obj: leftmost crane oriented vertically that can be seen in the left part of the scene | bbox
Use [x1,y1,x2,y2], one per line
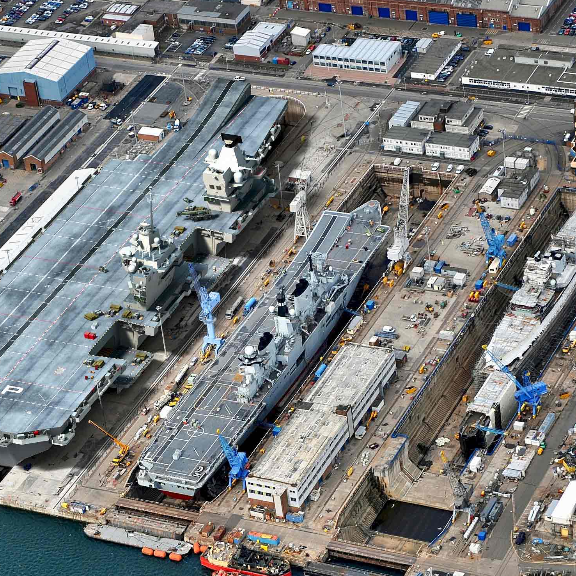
[187,261,226,358]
